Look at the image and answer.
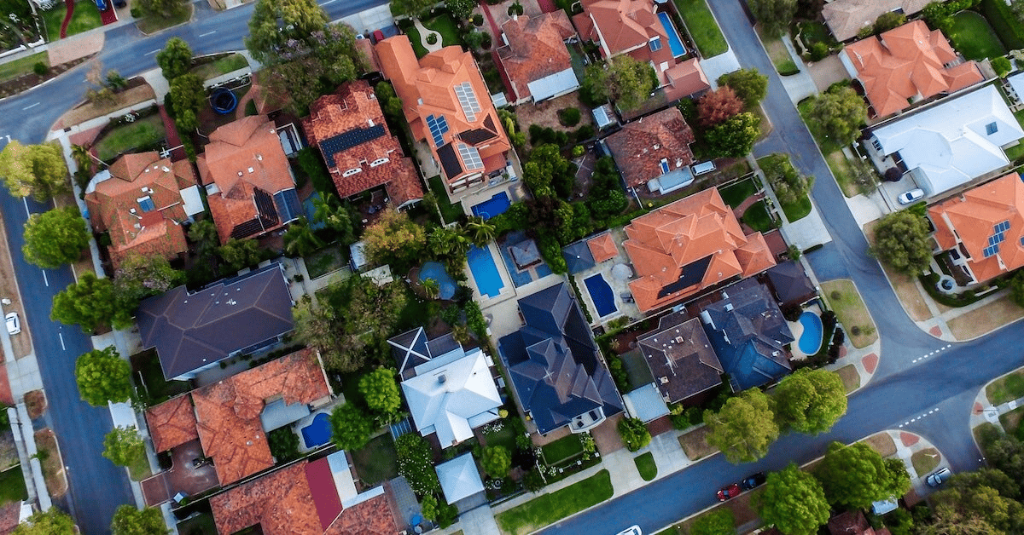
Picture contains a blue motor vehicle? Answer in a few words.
Yes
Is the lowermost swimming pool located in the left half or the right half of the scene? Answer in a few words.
left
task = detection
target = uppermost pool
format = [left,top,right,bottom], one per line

[662,13,687,59]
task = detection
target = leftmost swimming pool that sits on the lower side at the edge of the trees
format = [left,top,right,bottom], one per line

[299,411,338,451]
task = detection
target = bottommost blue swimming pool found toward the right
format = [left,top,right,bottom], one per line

[797,310,829,356]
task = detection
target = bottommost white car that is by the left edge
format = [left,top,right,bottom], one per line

[5,310,21,335]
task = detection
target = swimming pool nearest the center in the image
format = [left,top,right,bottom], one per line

[467,243,506,299]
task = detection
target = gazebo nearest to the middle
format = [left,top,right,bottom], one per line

[509,239,540,270]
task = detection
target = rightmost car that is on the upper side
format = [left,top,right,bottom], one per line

[897,189,924,204]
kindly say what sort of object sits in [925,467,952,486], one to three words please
car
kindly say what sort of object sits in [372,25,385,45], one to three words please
vehicle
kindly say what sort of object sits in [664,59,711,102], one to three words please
building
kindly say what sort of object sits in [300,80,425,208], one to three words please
house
